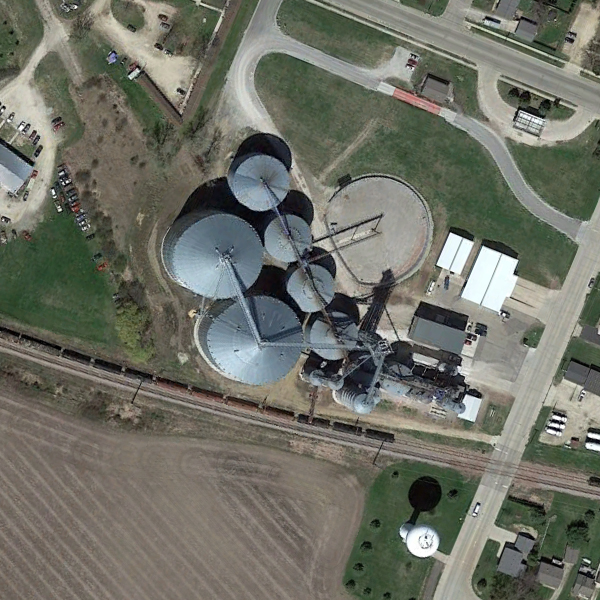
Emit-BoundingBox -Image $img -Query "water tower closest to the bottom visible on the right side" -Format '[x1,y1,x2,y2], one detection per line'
[396,521,439,558]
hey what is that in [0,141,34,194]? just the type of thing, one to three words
barn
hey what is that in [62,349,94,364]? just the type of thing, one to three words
rail car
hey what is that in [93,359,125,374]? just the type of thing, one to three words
rail car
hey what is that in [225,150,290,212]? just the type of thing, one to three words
silo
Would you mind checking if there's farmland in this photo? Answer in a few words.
Yes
